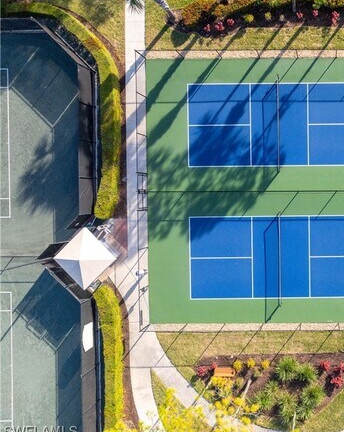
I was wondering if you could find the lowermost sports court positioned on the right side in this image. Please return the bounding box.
[147,191,344,324]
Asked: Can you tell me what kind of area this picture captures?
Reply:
sports ground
